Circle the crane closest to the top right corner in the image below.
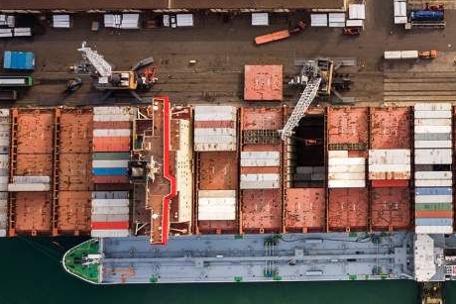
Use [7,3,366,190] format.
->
[282,60,359,140]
